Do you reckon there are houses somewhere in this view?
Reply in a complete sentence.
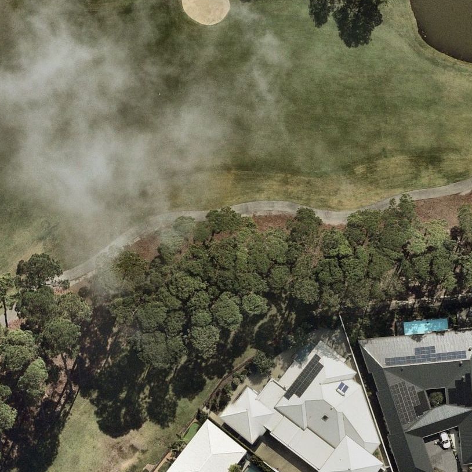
Yes, the image includes a house.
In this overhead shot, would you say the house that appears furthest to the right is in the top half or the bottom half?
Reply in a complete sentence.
The bottom half of the photo is where the house that appears furthest to the right is.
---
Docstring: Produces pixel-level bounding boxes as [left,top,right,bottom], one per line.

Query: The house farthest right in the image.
[358,334,472,472]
